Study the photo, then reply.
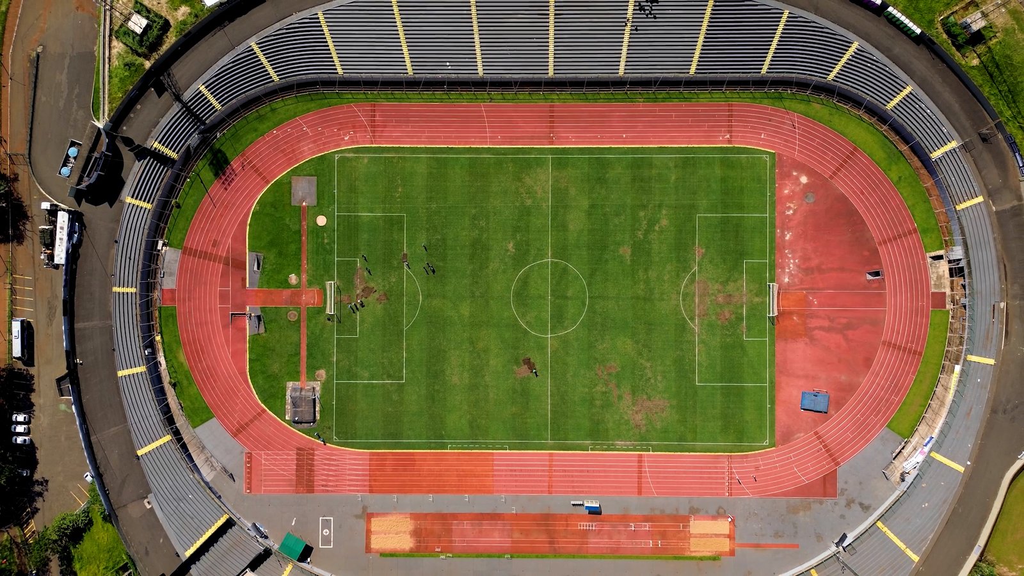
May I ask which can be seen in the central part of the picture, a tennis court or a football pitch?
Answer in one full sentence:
There is a football pitch in the central part of the picture.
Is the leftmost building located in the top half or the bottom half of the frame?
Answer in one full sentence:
The leftmost building sits in the top half of the picture.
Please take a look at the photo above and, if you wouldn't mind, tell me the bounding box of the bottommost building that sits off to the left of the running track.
[59,120,127,194]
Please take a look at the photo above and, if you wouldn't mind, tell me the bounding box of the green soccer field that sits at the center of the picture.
[248,147,776,453]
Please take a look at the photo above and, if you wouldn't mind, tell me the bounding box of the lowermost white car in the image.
[82,468,95,486]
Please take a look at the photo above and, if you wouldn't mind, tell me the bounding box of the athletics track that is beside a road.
[175,103,930,498]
